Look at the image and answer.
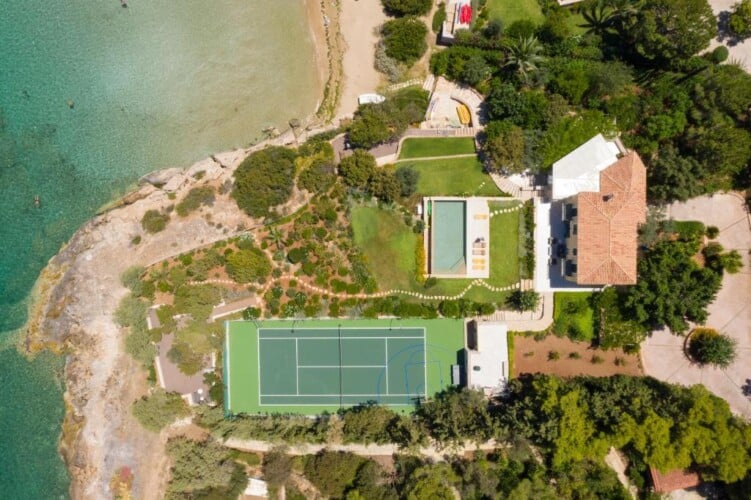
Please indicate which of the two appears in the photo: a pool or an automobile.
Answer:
pool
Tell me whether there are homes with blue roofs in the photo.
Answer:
No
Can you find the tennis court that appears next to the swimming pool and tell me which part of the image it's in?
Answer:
bottom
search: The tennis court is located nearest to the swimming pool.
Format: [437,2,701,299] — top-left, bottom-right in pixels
[230,320,466,415]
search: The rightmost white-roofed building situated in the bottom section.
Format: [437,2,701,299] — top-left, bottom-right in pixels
[463,316,508,391]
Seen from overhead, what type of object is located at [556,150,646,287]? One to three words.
house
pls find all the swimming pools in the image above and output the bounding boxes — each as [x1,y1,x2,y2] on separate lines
[423,194,511,278]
